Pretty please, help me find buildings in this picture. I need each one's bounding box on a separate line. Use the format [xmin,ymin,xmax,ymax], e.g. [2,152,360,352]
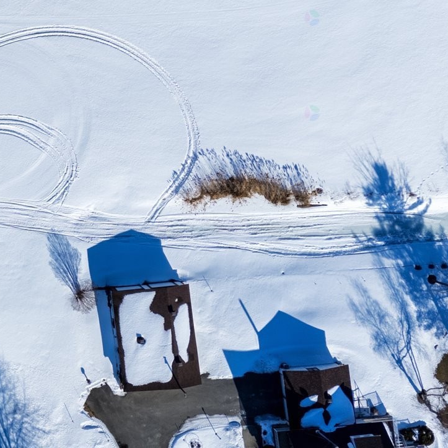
[108,280,202,392]
[266,360,397,448]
